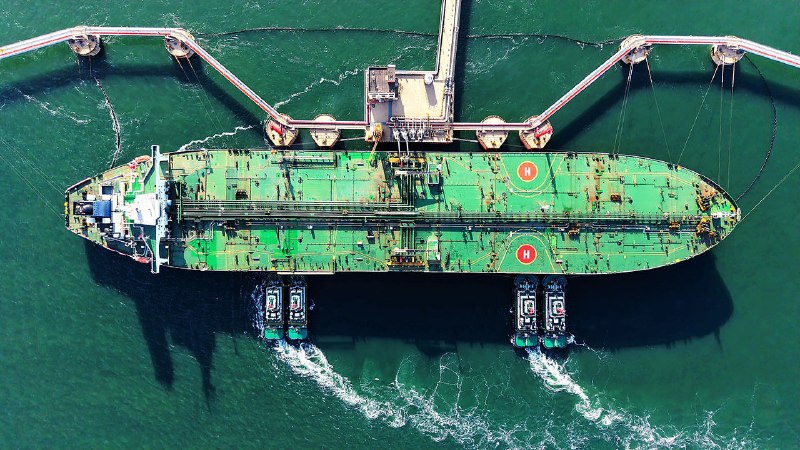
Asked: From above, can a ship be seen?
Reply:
Yes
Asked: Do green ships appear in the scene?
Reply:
Yes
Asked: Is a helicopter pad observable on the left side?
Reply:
No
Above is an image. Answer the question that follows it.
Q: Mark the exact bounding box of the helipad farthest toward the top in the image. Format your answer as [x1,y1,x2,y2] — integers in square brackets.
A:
[517,162,538,181]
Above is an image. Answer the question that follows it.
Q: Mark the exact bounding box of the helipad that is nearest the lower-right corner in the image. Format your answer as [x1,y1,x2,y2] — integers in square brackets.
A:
[516,244,537,264]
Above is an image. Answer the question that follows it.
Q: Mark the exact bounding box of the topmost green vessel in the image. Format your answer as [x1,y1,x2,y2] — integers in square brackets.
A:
[63,146,742,275]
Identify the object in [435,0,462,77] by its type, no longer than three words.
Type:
bridge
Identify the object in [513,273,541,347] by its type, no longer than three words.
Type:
boat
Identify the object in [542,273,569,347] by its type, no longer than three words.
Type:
boat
